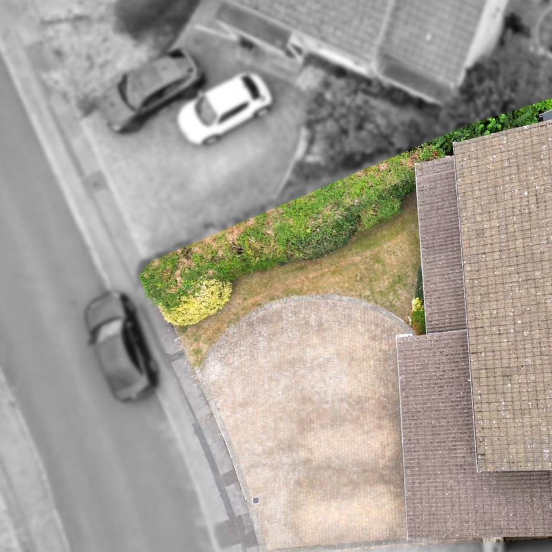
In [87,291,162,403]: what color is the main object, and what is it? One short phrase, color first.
gray car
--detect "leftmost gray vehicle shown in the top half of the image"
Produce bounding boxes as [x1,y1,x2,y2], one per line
[104,45,207,134]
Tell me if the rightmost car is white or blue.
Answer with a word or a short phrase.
white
